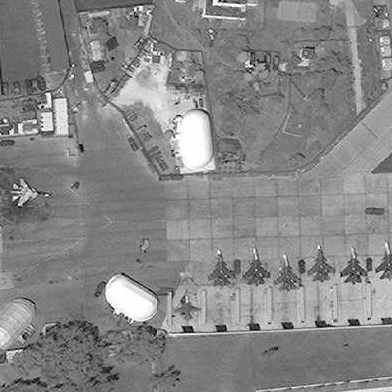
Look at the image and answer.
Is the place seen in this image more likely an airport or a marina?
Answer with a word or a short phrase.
airport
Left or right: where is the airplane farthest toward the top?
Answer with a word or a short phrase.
left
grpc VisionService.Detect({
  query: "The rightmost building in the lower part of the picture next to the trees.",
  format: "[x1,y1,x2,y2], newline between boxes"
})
[102,273,159,324]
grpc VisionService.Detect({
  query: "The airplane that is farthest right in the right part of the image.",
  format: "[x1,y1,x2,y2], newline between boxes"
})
[376,243,392,278]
